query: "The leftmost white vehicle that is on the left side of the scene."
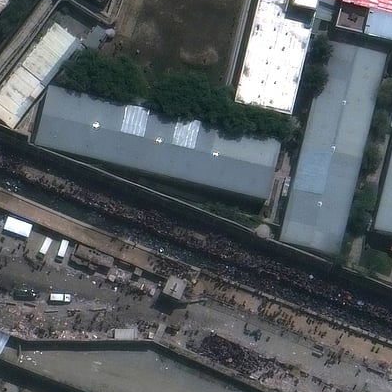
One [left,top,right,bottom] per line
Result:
[34,236,53,261]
